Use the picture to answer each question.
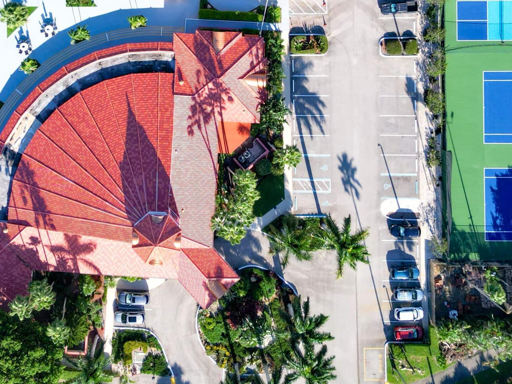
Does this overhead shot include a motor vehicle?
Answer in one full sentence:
Yes, the photo shows a motor vehicle.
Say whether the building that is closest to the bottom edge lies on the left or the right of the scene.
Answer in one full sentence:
The building that is closest to the bottom edge is on the left side of the image.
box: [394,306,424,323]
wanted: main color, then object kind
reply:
white car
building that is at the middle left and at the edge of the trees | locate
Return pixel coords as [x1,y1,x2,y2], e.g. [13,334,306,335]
[0,30,268,318]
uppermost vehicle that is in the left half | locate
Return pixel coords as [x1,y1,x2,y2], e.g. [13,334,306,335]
[118,291,150,306]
